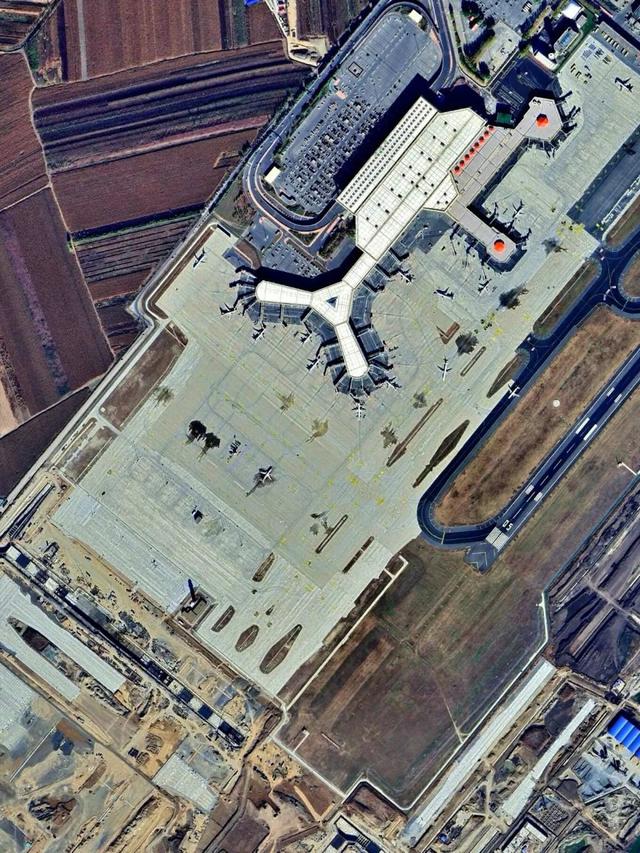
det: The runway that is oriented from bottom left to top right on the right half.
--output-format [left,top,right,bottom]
[464,342,640,575]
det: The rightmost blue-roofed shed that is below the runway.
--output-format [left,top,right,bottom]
[608,715,640,756]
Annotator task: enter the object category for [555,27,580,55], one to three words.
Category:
building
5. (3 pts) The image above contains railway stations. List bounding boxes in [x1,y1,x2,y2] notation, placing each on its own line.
[0,541,247,750]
